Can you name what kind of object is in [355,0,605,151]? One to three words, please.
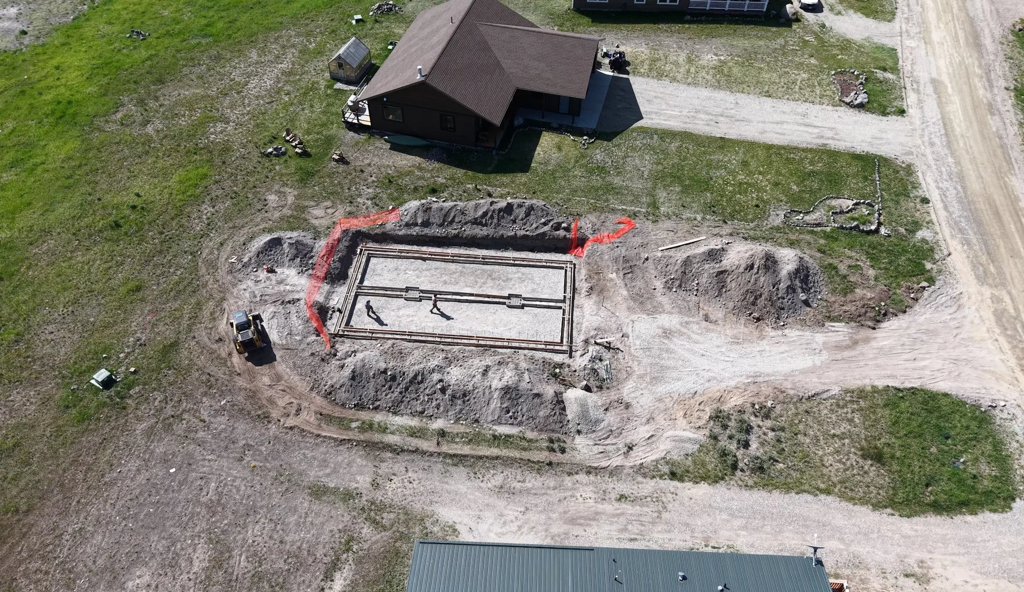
house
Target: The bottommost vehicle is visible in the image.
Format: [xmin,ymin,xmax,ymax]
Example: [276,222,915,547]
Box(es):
[219,306,266,355]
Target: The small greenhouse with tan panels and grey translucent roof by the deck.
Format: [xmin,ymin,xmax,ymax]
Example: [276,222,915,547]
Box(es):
[324,30,368,83]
